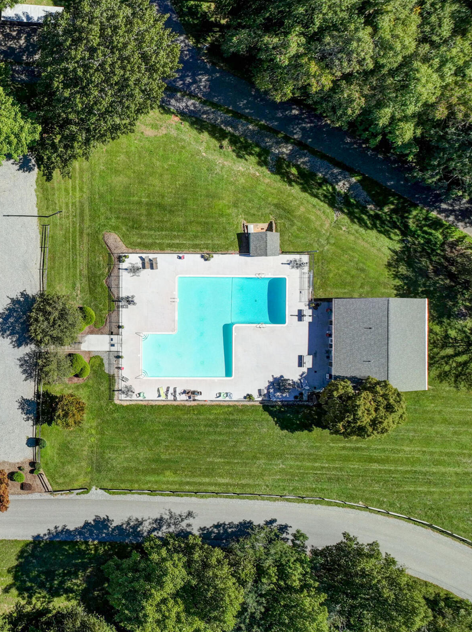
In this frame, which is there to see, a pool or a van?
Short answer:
pool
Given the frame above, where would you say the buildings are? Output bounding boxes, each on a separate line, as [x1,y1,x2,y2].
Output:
[0,2,65,30]
[247,233,280,255]
[328,298,429,391]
